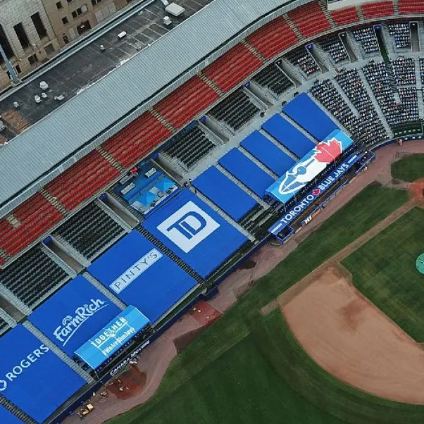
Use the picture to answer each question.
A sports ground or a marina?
sports ground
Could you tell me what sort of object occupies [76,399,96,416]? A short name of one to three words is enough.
vehicle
